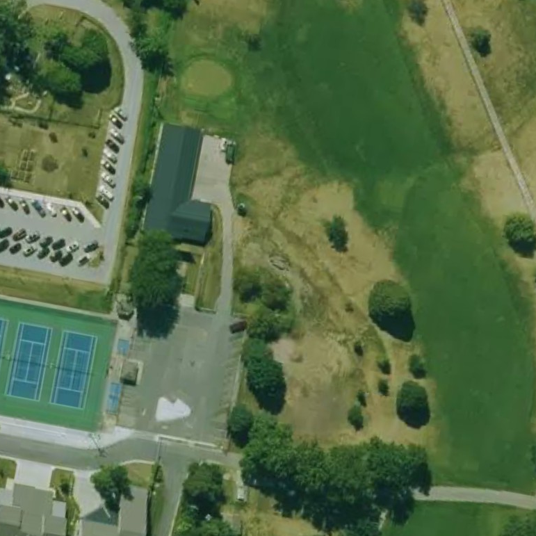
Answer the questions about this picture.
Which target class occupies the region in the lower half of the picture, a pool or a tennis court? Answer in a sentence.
The one visible in the lower half of the picture is a tennis court.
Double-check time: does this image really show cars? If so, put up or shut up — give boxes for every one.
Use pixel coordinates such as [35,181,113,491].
[36,247,51,259]
[5,197,17,211]
[49,250,63,262]
[99,185,113,199]
[109,114,123,127]
[39,236,53,247]
[0,240,10,250]
[101,174,115,186]
[32,199,45,216]
[60,207,72,222]
[113,108,127,121]
[59,252,74,264]
[101,161,115,173]
[103,150,117,163]
[97,195,111,208]
[25,232,40,242]
[18,199,30,214]
[111,129,125,142]
[0,227,12,239]
[105,139,121,153]
[84,240,98,252]
[72,207,84,222]
[65,241,80,253]
[45,202,57,216]
[13,228,27,240]
[22,246,36,257]
[8,242,23,254]
[76,254,91,266]
[229,322,246,331]
[50,238,65,250]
